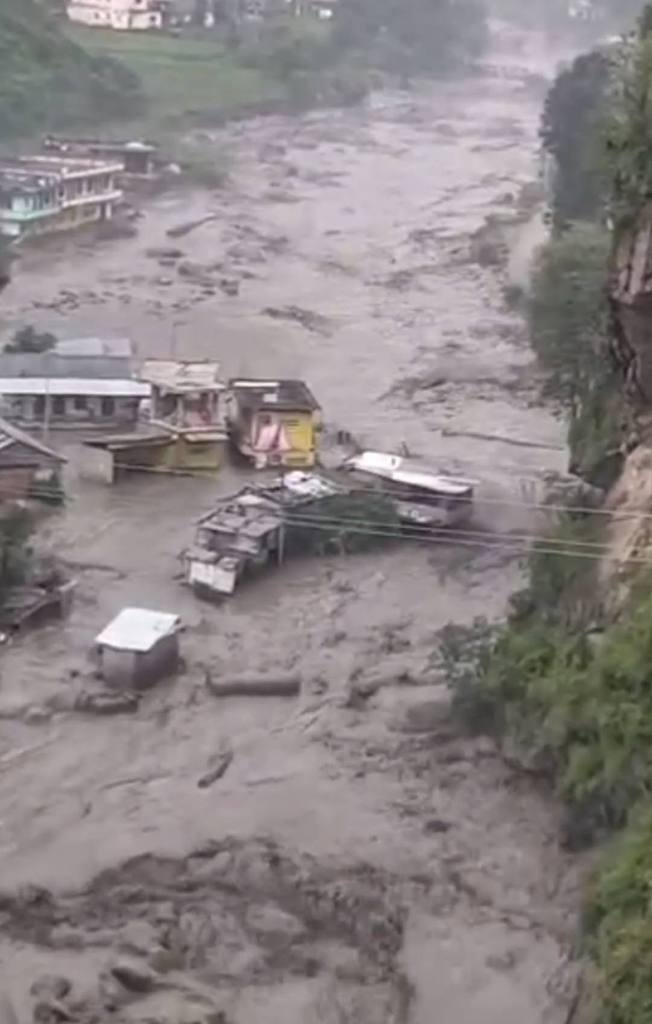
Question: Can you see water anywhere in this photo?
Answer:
Yes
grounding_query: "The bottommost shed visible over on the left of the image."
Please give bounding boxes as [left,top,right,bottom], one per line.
[95,609,186,692]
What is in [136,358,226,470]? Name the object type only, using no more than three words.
house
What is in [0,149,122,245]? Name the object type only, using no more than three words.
building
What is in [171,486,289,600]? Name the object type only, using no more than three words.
shed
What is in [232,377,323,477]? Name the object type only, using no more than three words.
house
